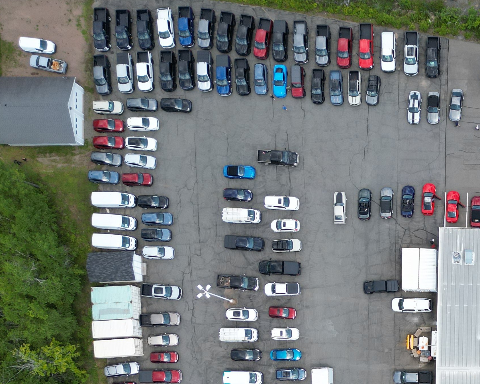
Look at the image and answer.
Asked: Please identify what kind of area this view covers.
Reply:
parking lot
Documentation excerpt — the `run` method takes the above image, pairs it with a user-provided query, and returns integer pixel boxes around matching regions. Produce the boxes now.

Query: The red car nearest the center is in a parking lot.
[121,171,155,188]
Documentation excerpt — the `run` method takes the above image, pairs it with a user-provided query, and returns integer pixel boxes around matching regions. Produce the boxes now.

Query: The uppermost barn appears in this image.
[0,76,84,149]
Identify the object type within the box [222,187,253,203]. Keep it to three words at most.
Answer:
car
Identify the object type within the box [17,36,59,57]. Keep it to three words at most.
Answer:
vehicle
